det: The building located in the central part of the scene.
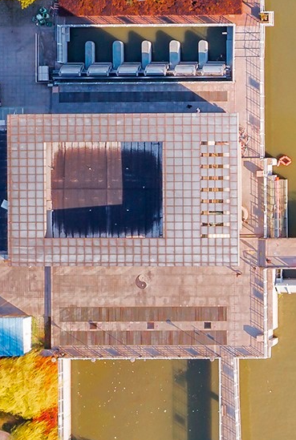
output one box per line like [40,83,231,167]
[7,111,241,266]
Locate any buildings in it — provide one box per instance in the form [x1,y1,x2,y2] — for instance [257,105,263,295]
[0,316,32,356]
[7,111,241,266]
